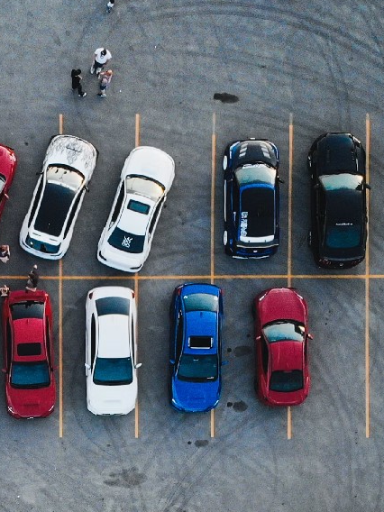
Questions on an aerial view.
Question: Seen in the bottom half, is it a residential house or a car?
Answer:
car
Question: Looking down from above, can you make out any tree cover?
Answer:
No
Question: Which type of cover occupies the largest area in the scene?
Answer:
paved ground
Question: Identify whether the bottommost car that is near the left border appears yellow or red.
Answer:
red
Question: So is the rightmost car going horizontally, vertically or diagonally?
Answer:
vertically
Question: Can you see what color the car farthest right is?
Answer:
black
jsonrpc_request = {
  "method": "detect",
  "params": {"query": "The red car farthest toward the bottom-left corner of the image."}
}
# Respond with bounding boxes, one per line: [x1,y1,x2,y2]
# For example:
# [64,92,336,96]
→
[0,289,61,421]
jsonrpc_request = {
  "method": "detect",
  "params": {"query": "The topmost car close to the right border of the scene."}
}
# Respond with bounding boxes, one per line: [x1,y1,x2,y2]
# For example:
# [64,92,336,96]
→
[305,132,374,271]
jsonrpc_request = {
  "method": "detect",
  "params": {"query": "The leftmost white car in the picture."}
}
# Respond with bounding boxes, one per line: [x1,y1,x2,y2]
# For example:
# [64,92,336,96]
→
[21,135,97,262]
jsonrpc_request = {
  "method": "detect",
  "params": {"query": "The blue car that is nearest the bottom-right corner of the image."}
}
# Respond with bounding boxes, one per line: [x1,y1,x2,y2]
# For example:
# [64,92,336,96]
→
[168,282,231,414]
